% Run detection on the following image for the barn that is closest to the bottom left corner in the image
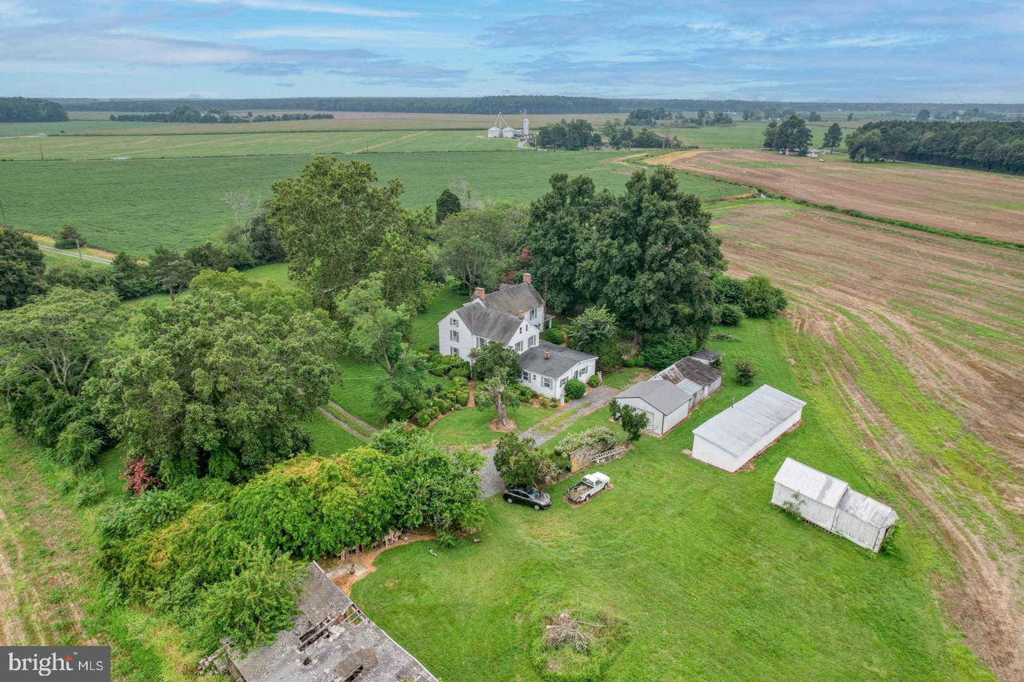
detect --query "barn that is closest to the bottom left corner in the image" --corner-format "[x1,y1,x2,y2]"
[213,558,442,682]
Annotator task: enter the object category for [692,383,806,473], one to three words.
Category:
shed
